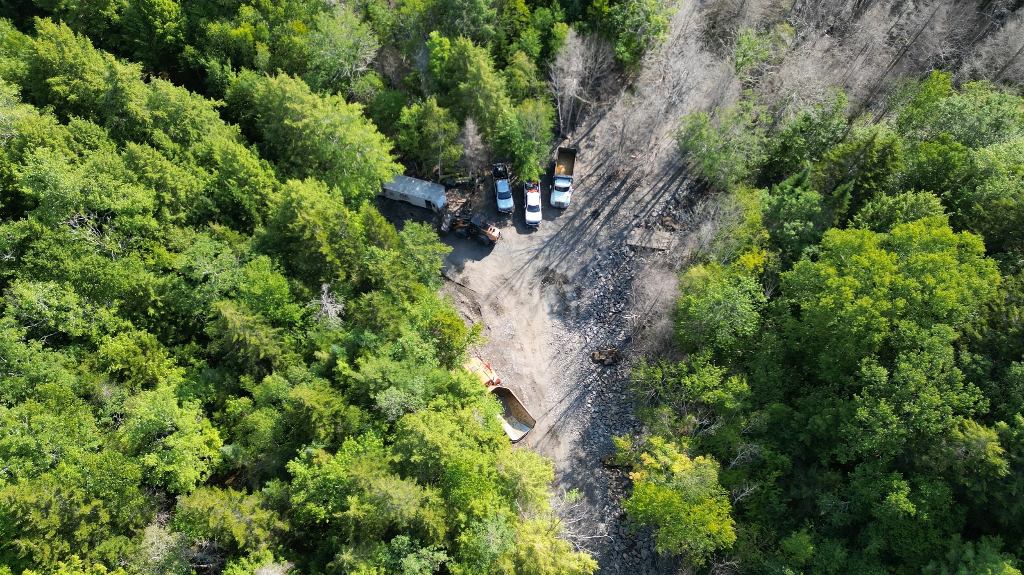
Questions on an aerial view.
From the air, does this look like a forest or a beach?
forest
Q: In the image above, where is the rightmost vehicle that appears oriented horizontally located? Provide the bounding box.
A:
[440,215,502,246]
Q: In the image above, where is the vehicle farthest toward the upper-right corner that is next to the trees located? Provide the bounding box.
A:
[550,146,578,211]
